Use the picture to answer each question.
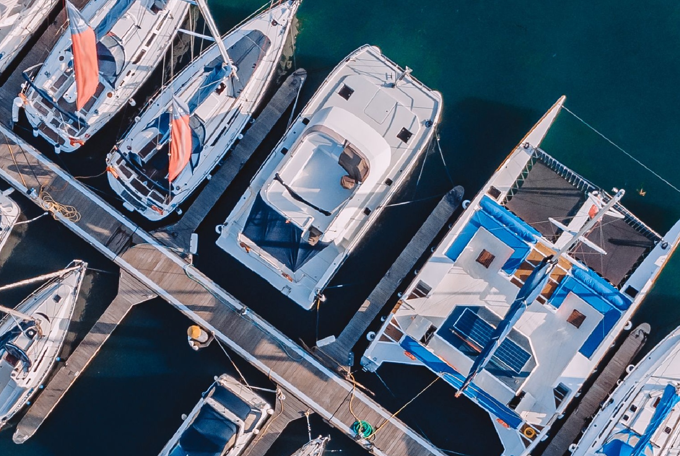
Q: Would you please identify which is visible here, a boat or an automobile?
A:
boat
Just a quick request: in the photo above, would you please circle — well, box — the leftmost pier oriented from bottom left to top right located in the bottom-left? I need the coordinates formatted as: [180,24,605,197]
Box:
[13,267,158,443]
